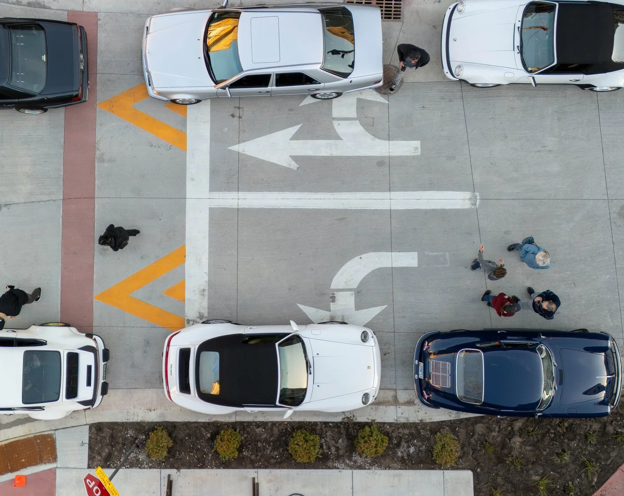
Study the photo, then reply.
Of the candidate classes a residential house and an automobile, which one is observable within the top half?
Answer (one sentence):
There is an automobile within the top half.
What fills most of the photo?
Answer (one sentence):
Most of the picture is covered by paved ground.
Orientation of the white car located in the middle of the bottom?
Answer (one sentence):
The white car located in the middle of the bottom has been laid out horizontally relative to the frame.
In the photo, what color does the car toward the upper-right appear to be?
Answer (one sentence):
The color of the car toward the upper-right is white.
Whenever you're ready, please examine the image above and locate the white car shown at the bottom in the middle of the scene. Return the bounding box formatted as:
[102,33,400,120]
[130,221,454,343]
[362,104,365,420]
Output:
[162,320,377,417]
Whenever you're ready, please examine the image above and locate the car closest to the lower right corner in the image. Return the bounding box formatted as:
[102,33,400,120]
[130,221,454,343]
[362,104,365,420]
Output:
[413,327,622,419]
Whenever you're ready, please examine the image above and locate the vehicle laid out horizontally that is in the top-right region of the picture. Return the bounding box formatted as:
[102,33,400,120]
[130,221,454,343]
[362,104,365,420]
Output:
[443,0,624,88]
